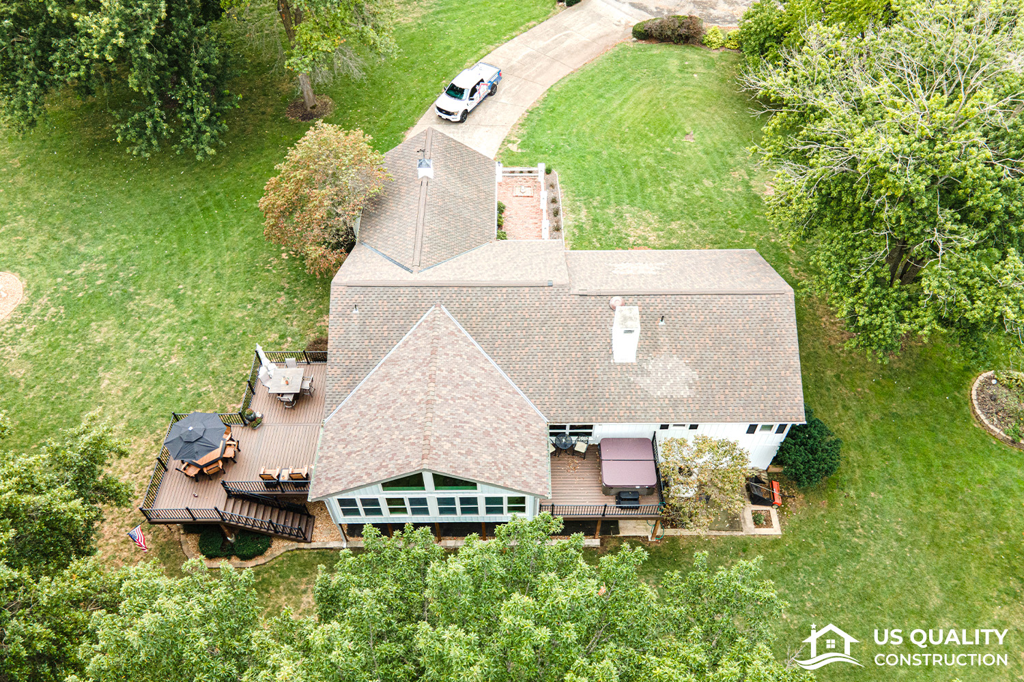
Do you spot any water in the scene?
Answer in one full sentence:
No, there's no water in this view.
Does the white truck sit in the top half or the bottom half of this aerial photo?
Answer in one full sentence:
The white truck sits in the top half of the picture.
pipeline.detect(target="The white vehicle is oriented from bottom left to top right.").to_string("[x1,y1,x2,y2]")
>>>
[430,62,503,123]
